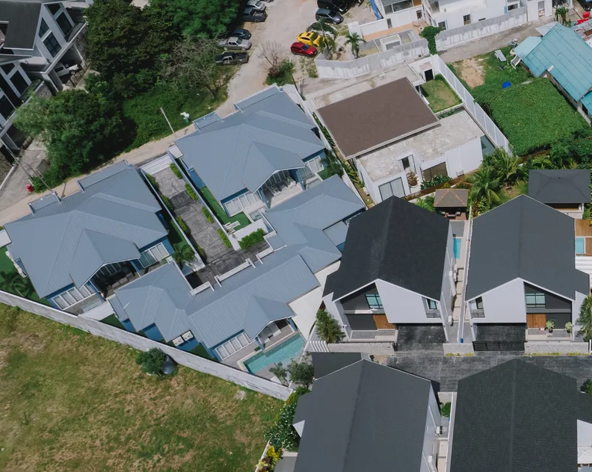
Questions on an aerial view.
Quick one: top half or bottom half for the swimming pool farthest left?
bottom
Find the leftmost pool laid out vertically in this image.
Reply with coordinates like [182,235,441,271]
[453,235,466,262]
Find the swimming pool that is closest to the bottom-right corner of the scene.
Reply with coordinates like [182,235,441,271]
[574,235,587,256]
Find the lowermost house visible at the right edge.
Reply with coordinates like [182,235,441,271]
[450,358,588,472]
